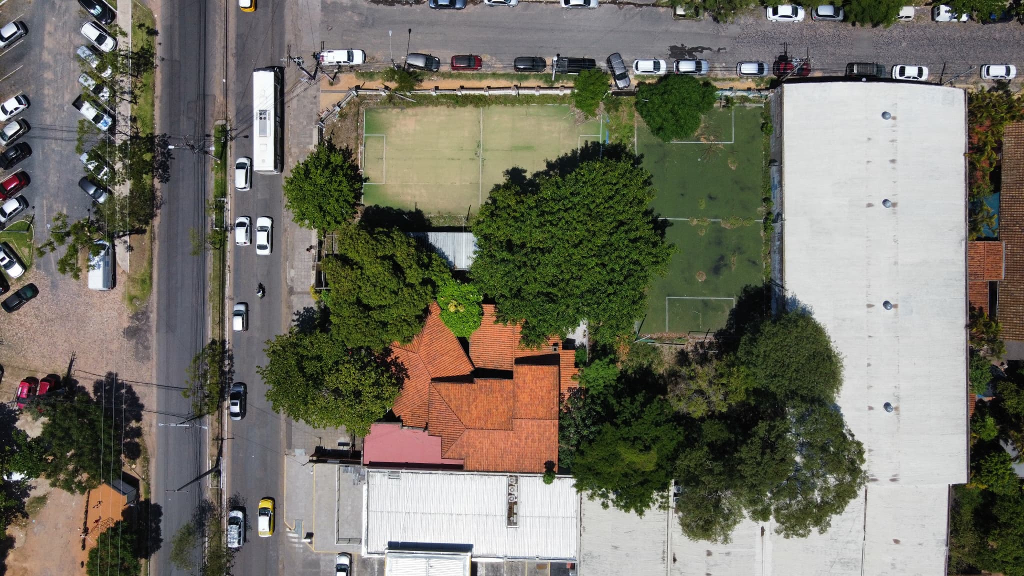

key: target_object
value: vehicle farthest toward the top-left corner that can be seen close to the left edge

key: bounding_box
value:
[0,22,28,50]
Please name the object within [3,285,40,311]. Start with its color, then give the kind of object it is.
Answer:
black car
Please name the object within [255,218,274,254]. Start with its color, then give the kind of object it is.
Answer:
white car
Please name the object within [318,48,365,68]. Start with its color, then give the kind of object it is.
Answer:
white car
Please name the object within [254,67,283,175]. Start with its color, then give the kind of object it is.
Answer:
white bus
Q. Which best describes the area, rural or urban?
urban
